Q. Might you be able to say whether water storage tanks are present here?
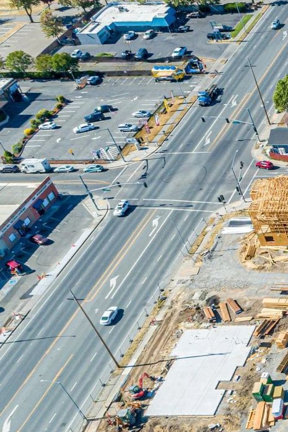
No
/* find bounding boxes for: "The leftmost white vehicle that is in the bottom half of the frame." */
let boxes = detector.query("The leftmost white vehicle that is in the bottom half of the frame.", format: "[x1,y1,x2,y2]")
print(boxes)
[99,307,118,325]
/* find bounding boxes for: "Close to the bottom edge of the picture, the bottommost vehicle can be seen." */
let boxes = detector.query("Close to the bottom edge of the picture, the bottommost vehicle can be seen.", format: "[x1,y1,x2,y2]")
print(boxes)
[101,397,152,431]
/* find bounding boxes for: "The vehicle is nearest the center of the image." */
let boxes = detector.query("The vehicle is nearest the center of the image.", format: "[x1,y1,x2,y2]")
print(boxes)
[113,199,131,215]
